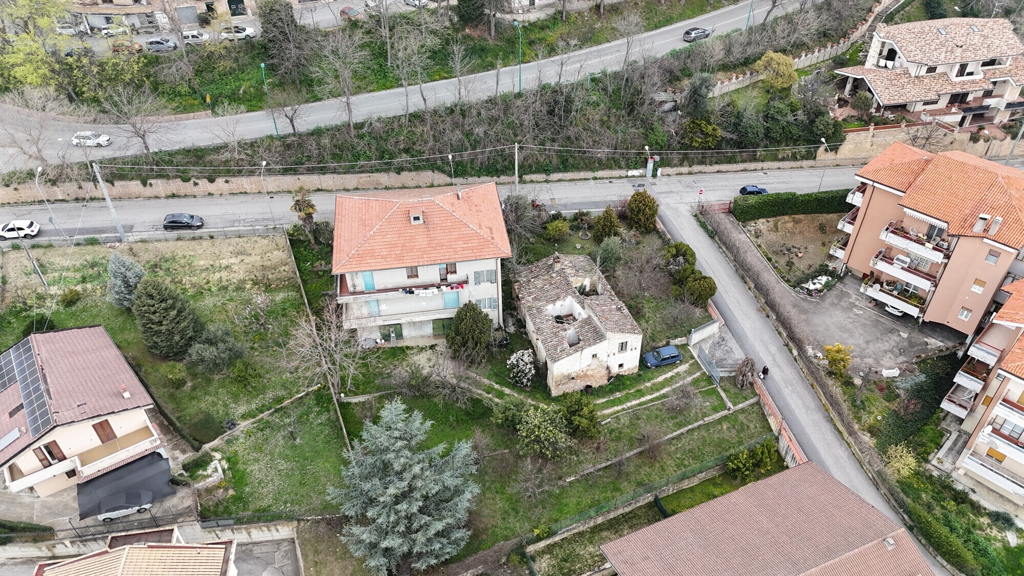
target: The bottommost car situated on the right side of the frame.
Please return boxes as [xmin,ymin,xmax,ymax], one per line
[642,340,685,367]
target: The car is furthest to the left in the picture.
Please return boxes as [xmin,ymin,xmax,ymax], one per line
[0,216,41,239]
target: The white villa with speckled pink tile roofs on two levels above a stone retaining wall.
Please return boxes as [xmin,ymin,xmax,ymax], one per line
[822,1,1024,127]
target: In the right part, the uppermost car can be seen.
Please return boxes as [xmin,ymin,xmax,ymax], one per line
[681,24,713,40]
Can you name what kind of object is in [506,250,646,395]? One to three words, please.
house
